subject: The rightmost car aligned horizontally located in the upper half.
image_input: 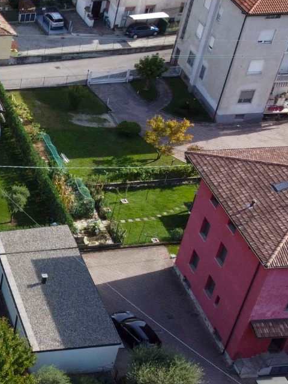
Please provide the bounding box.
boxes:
[127,24,159,38]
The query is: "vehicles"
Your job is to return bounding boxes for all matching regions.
[127,24,159,38]
[109,311,170,357]
[45,15,62,29]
